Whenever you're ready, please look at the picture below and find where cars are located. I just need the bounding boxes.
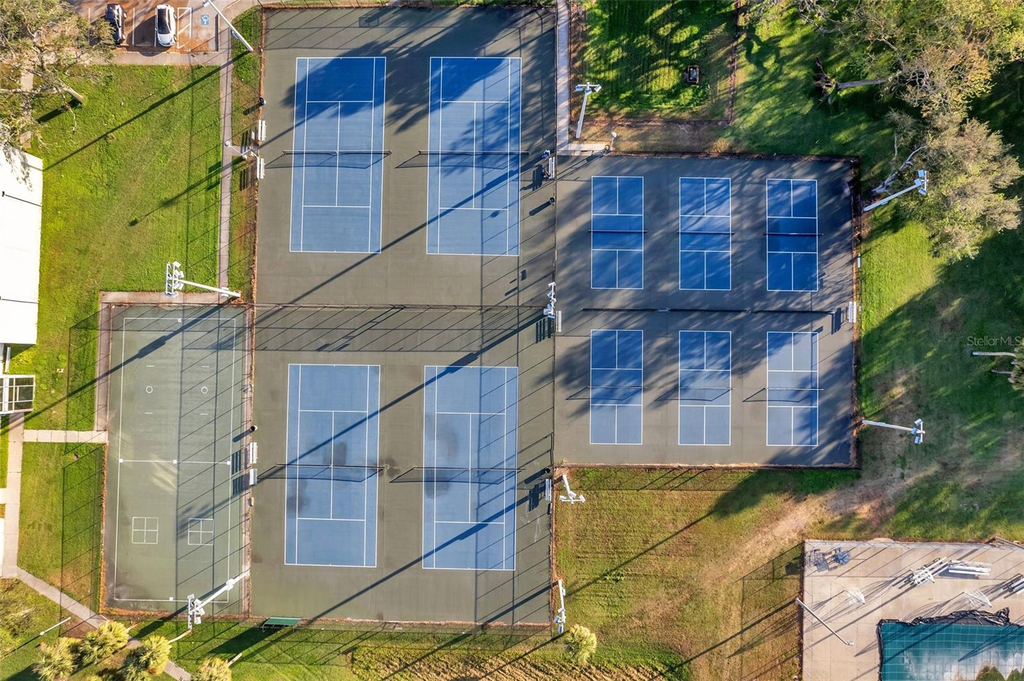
[154,5,176,44]
[107,4,129,44]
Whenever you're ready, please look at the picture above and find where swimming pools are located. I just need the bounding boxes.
[883,624,1024,681]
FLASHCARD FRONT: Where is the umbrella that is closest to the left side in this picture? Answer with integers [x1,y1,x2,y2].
[842,585,870,613]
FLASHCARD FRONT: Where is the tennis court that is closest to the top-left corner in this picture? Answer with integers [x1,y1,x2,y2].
[290,56,386,253]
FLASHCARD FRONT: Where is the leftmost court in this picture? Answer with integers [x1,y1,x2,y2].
[103,307,243,612]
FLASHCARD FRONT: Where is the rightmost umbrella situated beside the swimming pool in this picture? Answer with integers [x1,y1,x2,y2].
[963,588,994,616]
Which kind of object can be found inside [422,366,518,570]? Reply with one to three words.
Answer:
tennis court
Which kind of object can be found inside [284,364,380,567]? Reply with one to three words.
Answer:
tennis court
